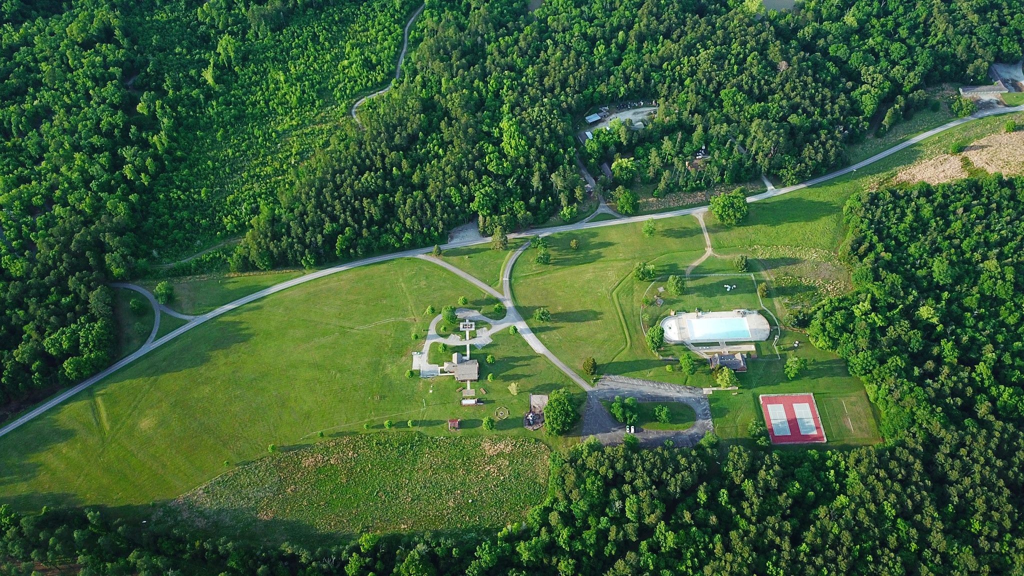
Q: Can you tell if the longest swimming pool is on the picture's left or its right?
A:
right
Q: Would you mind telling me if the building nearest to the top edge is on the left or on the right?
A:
right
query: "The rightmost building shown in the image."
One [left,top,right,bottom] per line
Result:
[960,64,1011,94]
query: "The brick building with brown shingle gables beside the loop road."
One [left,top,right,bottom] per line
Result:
[448,351,479,382]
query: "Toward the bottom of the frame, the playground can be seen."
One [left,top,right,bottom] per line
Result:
[524,394,549,431]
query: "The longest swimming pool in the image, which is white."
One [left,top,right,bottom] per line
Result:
[660,309,770,344]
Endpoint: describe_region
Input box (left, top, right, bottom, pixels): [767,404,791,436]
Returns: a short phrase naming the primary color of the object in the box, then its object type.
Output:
white tennis court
